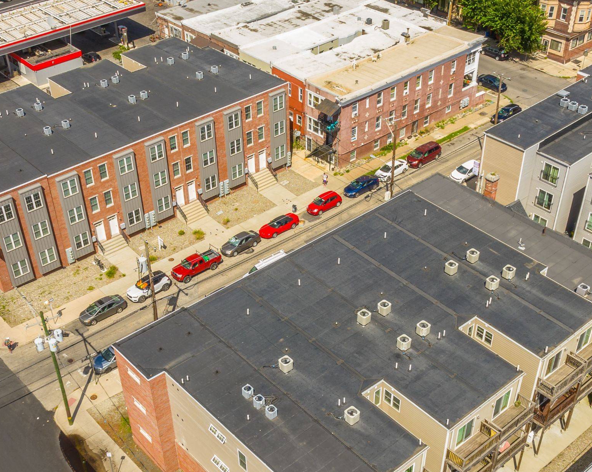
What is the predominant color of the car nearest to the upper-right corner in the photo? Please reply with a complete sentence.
From above, the car nearest to the upper-right corner appears black.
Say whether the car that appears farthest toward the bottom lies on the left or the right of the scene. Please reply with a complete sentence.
The car that appears farthest toward the bottom appears in the left half of the scene.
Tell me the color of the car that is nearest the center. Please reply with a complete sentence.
From above, the car that is nearest the center appears red.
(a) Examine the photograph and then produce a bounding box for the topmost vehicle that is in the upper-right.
[479,43,511,63]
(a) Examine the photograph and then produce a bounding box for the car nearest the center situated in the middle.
[258,214,302,242]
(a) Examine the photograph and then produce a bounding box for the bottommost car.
[81,348,116,383]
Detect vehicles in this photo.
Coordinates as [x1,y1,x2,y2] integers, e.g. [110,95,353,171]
[218,230,263,260]
[168,244,224,287]
[404,139,445,169]
[373,160,411,184]
[233,236,287,278]
[475,76,511,94]
[78,294,131,328]
[81,348,116,383]
[479,43,511,63]
[84,51,106,64]
[491,100,522,122]
[342,175,382,200]
[258,214,302,242]
[448,160,477,184]
[305,190,344,217]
